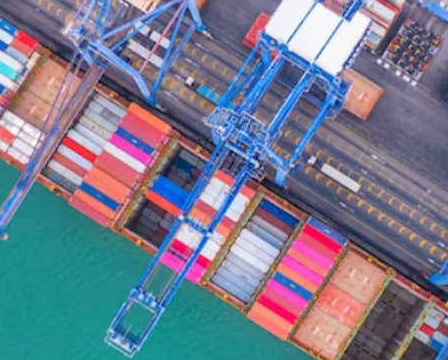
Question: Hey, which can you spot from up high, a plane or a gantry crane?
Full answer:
Looking from above, you can make out a gantry crane.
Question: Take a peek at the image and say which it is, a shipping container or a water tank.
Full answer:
Of the two, only a shipping container appears.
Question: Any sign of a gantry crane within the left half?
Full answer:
Yes, you'll find a gantry crane within the left half.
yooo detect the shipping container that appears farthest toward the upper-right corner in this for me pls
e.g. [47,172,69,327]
[419,0,448,26]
